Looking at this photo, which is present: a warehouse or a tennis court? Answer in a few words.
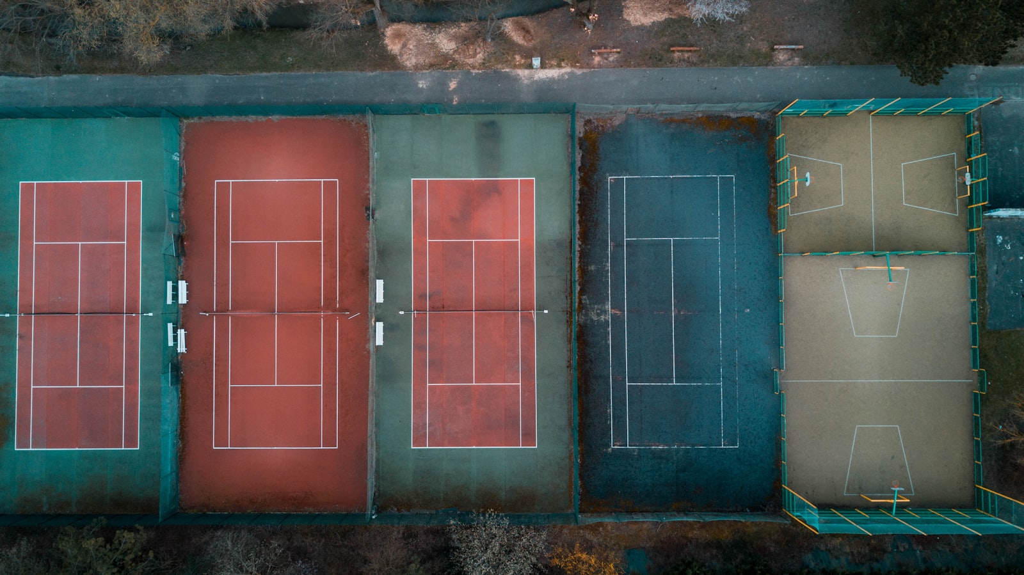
tennis court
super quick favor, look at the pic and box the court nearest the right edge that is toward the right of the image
[578,111,783,513]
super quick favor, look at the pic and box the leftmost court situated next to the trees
[0,117,179,514]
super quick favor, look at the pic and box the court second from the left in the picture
[179,115,373,514]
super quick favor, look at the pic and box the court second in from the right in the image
[375,115,573,514]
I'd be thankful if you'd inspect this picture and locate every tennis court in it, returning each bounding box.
[0,117,179,514]
[179,115,373,514]
[375,115,573,514]
[578,111,783,513]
